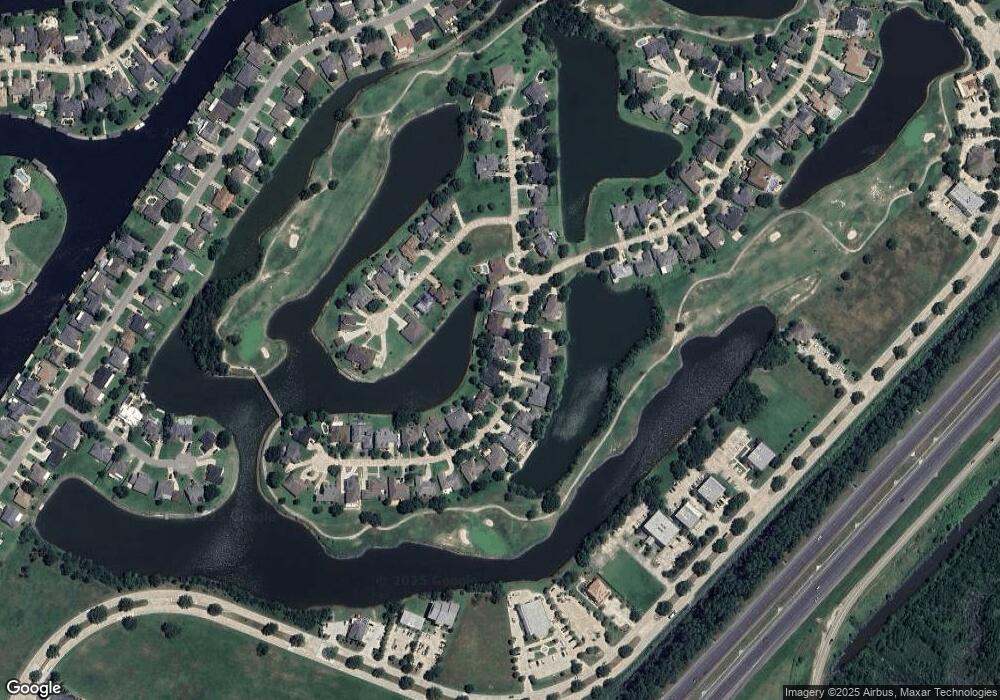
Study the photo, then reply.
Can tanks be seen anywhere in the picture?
No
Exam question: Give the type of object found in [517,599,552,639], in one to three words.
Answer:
building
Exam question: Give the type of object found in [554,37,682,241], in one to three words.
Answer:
pond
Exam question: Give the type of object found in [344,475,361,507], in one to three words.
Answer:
house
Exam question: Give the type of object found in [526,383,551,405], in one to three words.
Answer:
house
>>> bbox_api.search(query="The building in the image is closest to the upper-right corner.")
[953,73,979,98]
